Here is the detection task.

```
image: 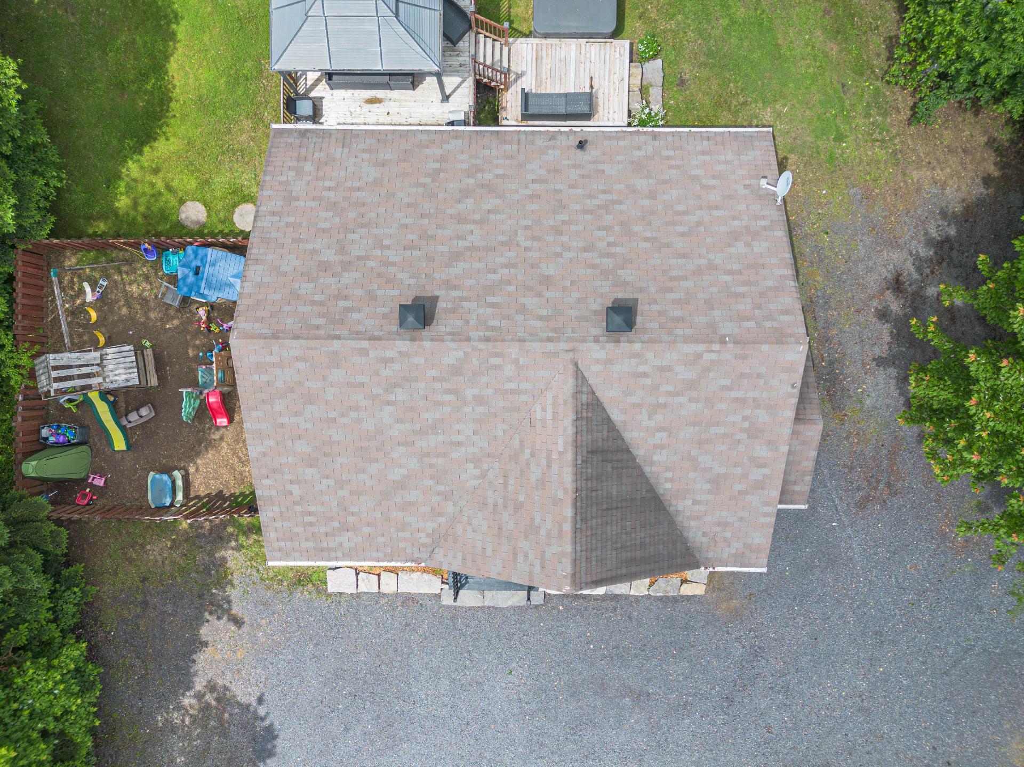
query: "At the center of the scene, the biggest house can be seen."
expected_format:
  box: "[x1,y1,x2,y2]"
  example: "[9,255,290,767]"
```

[231,123,823,591]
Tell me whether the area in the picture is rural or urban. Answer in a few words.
urban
